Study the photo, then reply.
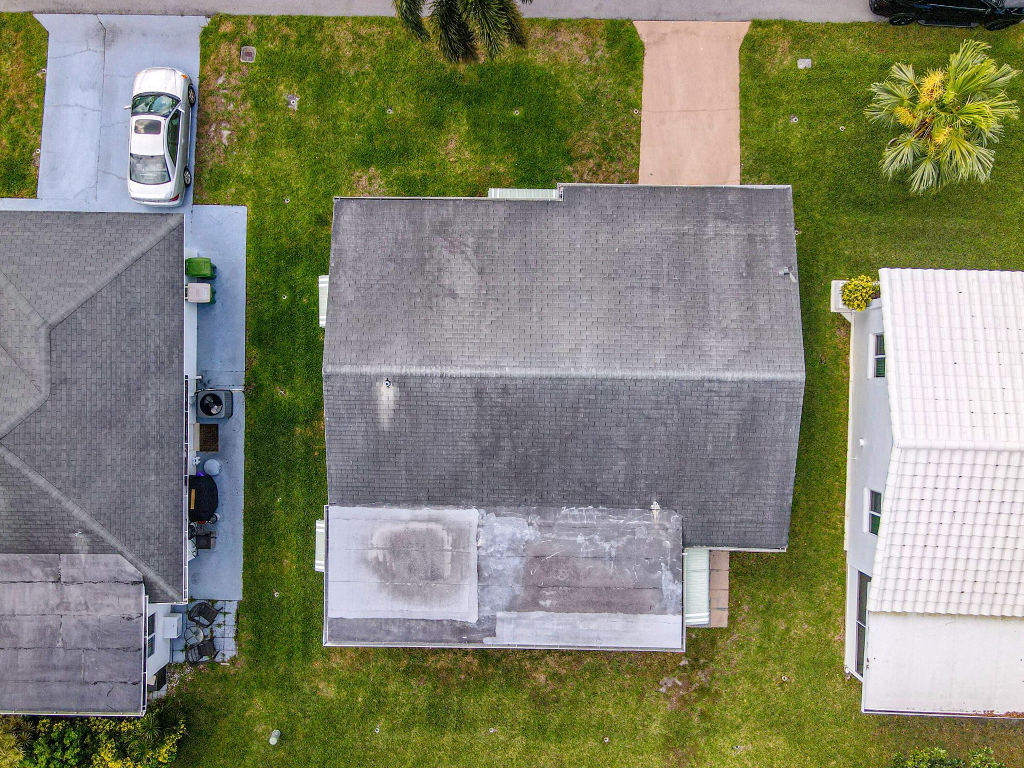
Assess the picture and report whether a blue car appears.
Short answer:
No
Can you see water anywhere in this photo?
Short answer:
No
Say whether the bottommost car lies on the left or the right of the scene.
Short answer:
left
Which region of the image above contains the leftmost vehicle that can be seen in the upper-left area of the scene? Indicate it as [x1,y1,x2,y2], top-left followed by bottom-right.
[121,65,195,207]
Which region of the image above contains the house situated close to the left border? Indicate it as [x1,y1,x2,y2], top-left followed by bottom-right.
[0,211,203,716]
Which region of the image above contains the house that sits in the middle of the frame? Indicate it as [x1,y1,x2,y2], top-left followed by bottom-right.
[320,178,806,654]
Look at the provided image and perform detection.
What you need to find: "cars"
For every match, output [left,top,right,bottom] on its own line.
[877,0,1024,30]
[121,65,195,207]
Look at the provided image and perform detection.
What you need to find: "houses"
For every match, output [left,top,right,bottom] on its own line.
[844,267,1024,718]
[320,178,806,654]
[0,211,203,716]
